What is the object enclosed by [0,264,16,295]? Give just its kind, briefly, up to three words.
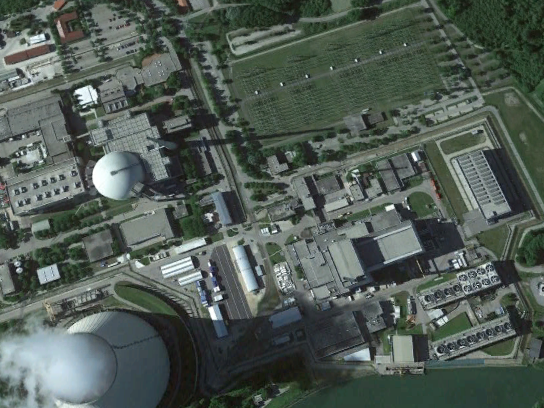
building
